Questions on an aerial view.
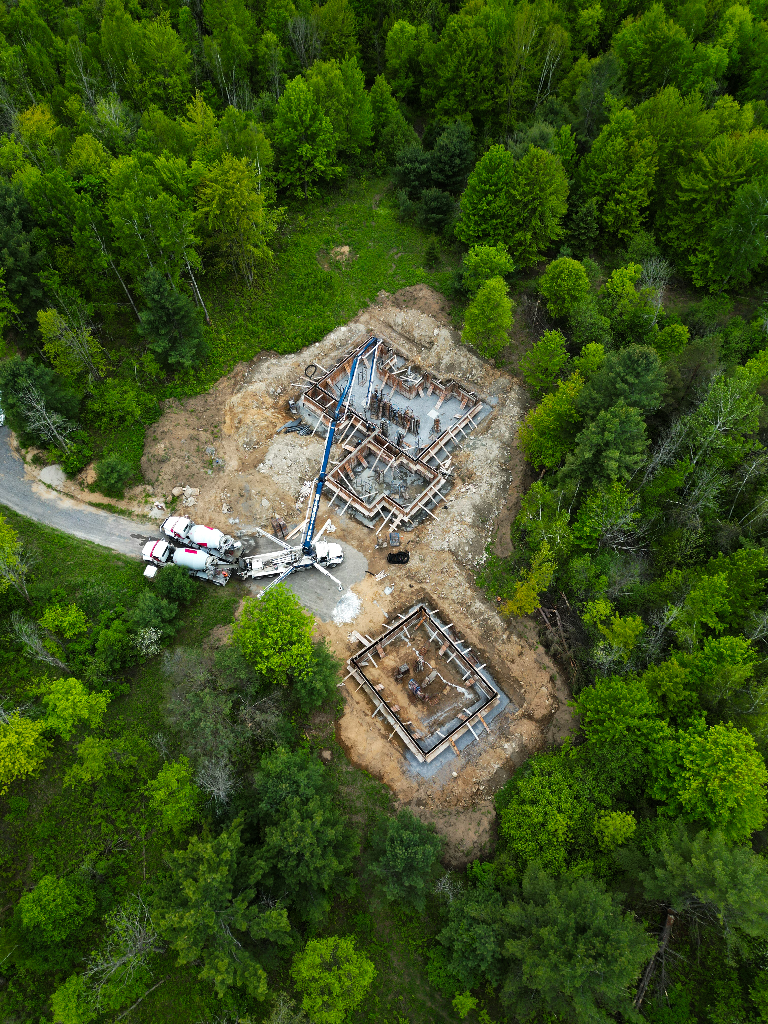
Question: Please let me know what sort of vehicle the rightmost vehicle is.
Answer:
truck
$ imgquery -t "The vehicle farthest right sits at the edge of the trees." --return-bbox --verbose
[238,336,383,596]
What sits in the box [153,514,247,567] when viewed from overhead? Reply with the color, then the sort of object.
white truck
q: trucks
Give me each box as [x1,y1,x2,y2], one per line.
[238,336,383,596]
[153,514,247,567]
[138,539,242,588]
